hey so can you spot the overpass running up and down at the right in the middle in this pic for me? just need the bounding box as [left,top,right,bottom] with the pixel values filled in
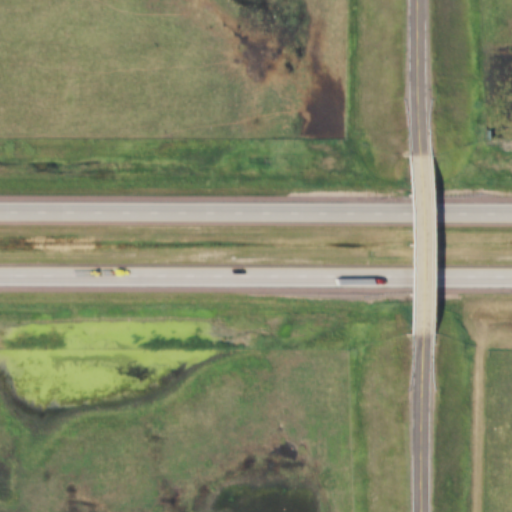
[406,146,438,344]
